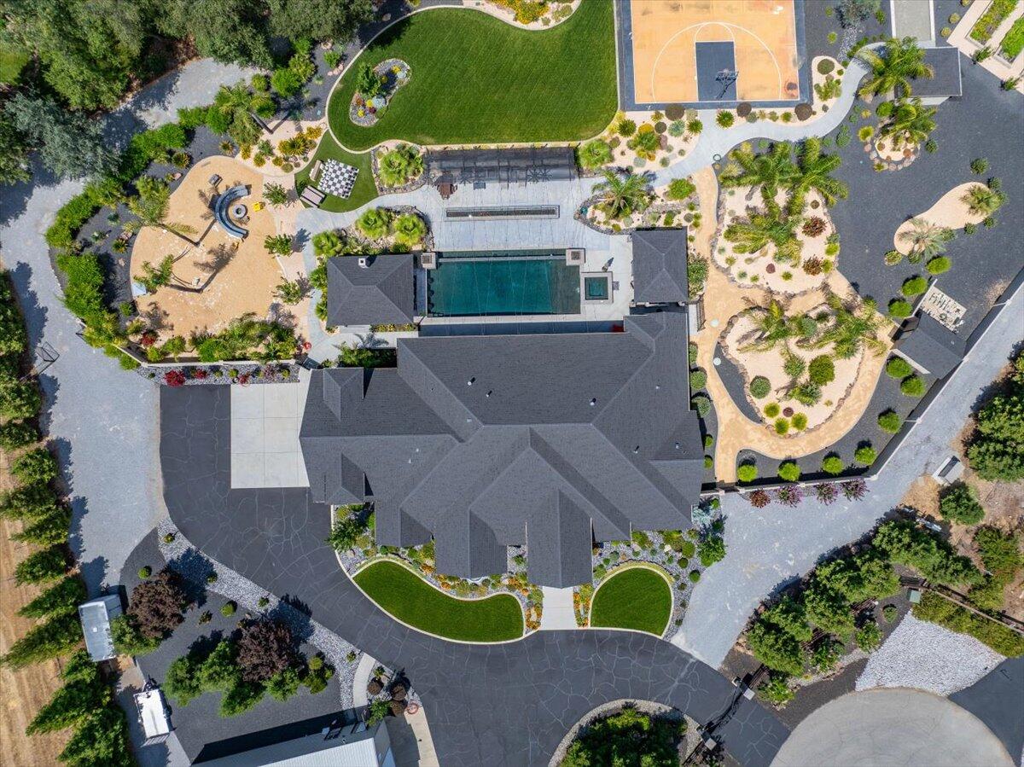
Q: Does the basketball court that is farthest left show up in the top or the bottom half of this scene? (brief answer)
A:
top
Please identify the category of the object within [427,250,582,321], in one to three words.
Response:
swimming pool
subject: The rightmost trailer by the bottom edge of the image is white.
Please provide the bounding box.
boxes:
[133,676,173,745]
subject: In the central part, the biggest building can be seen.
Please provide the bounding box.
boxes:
[299,313,703,588]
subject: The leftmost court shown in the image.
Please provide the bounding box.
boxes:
[616,0,812,111]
